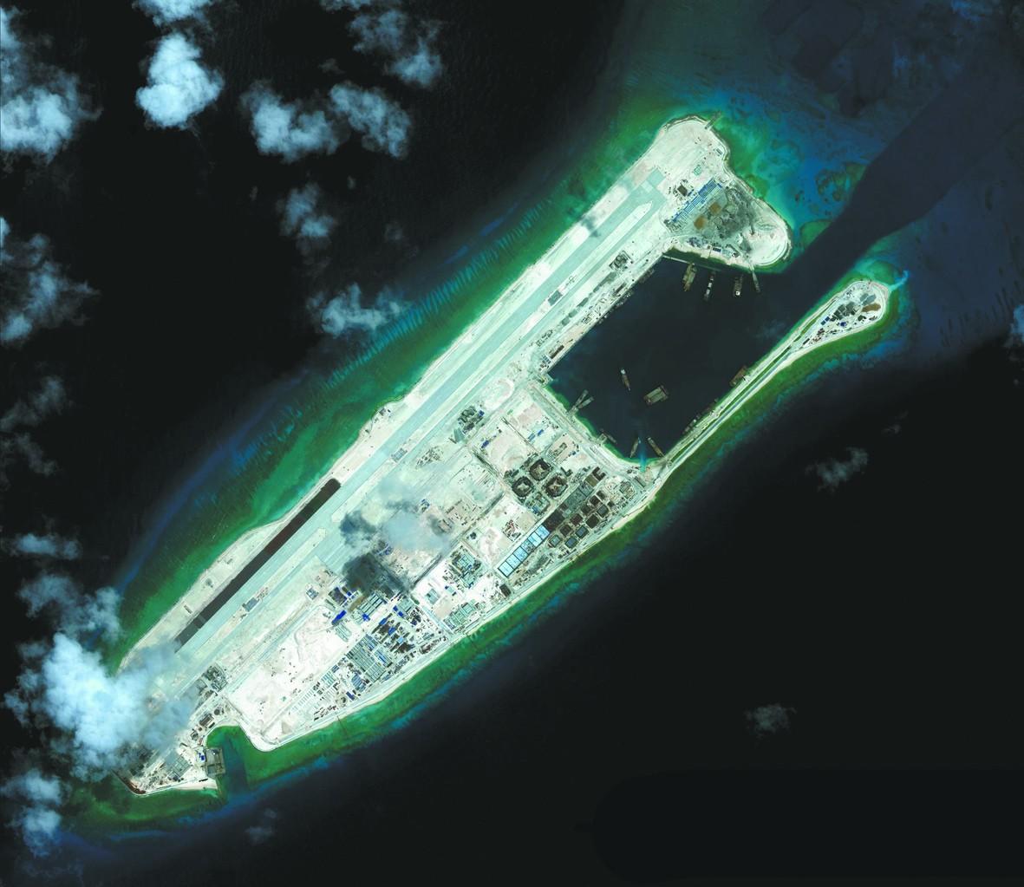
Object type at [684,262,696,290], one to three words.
ship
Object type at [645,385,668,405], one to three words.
ship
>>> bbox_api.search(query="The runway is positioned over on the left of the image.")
[120,185,651,722]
